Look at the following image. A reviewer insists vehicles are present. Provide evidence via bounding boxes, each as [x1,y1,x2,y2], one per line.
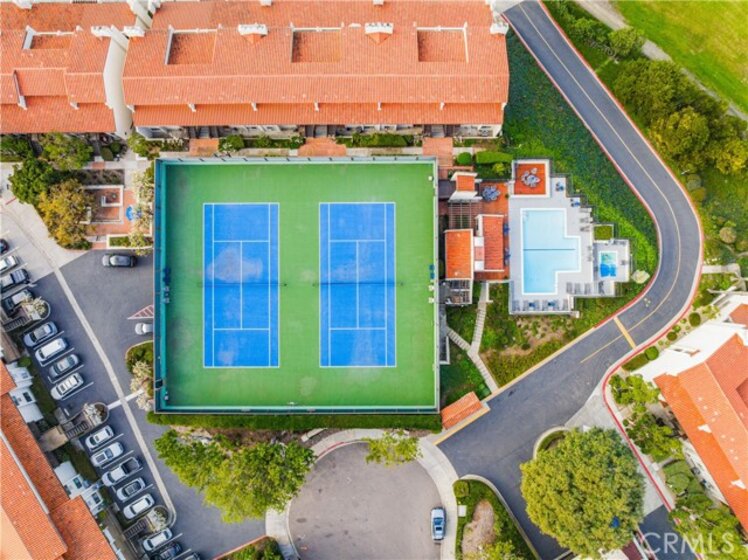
[141,523,175,551]
[115,475,148,501]
[34,335,71,363]
[102,253,137,268]
[122,491,157,518]
[24,319,59,345]
[152,537,186,560]
[84,423,118,448]
[47,353,82,379]
[2,284,37,310]
[431,505,446,540]
[101,454,143,486]
[177,547,207,560]
[50,372,87,399]
[0,264,32,294]
[90,440,126,467]
[136,321,154,336]
[0,250,23,277]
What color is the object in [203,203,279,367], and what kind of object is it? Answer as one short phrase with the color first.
blue tennis court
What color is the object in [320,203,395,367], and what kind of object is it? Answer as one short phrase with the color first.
blue tennis court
